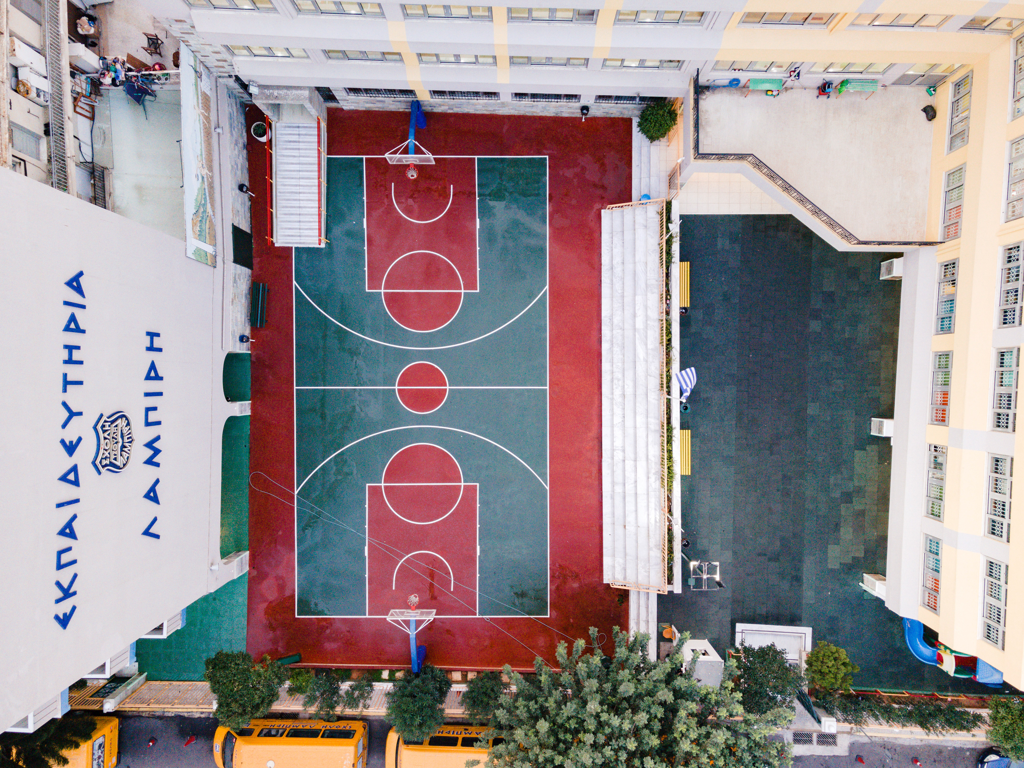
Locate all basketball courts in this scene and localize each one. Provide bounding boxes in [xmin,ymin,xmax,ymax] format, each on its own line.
[247,106,631,669]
